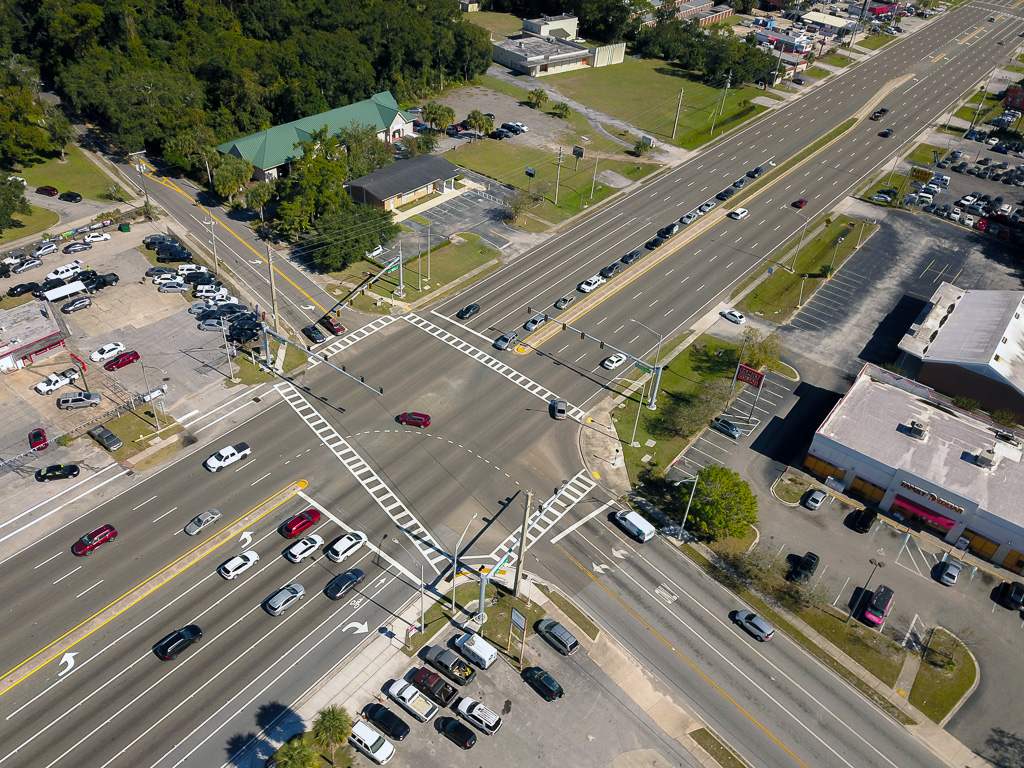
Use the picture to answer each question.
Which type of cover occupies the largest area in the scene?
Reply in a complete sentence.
The largest share of the image is taken up by paved ground.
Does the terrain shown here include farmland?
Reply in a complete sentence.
No, farmland can't be seen anywhere here.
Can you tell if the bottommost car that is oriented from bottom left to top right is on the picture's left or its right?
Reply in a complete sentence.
The bottommost car that is oriented from bottom left to top right sits on the left side.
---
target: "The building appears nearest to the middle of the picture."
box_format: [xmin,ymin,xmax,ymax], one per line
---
[347,155,461,214]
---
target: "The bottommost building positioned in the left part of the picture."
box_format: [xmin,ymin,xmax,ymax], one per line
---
[0,303,75,389]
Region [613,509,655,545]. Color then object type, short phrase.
white van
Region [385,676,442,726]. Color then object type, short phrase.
white truck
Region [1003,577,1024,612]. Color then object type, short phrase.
black car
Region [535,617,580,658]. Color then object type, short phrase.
gray vehicle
